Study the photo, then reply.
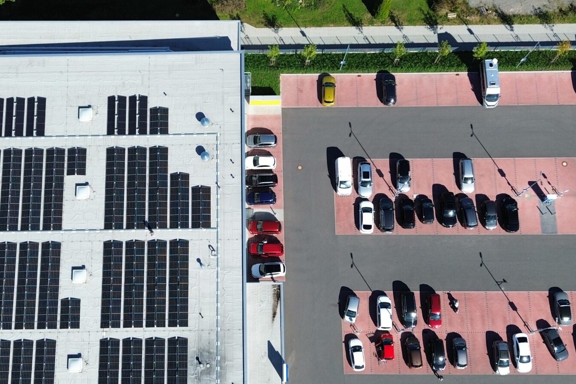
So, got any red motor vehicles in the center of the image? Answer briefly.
Yes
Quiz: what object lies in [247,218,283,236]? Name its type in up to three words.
car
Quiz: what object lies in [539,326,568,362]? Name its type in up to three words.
car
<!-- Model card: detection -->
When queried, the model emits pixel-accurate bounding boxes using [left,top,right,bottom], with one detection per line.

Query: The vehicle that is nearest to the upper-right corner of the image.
[479,58,503,109]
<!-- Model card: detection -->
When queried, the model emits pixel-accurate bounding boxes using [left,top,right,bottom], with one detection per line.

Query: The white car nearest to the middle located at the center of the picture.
[244,154,278,171]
